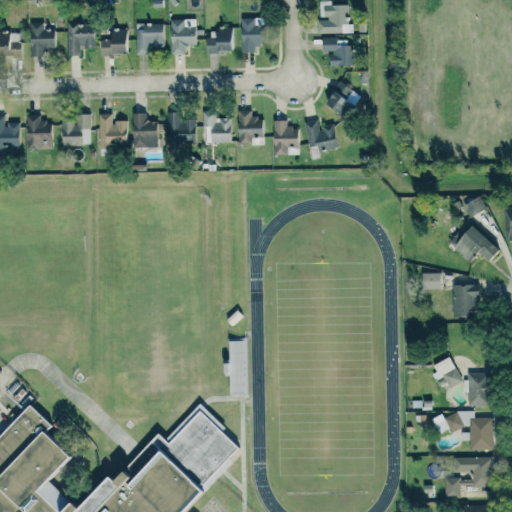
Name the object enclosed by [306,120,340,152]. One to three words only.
house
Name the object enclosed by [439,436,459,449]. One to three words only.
swimming pool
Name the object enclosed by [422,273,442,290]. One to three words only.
shed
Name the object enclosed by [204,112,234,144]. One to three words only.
house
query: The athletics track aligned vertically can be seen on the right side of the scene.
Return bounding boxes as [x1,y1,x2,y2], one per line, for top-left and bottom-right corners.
[250,198,400,512]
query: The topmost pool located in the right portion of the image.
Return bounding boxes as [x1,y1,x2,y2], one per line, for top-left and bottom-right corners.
[453,386,466,406]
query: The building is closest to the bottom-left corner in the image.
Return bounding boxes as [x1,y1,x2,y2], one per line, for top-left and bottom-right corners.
[0,406,75,512]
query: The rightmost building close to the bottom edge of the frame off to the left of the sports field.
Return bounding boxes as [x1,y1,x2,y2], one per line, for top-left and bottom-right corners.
[61,404,242,512]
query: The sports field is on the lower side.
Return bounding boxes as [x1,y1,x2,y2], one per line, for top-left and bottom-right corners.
[264,212,387,512]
